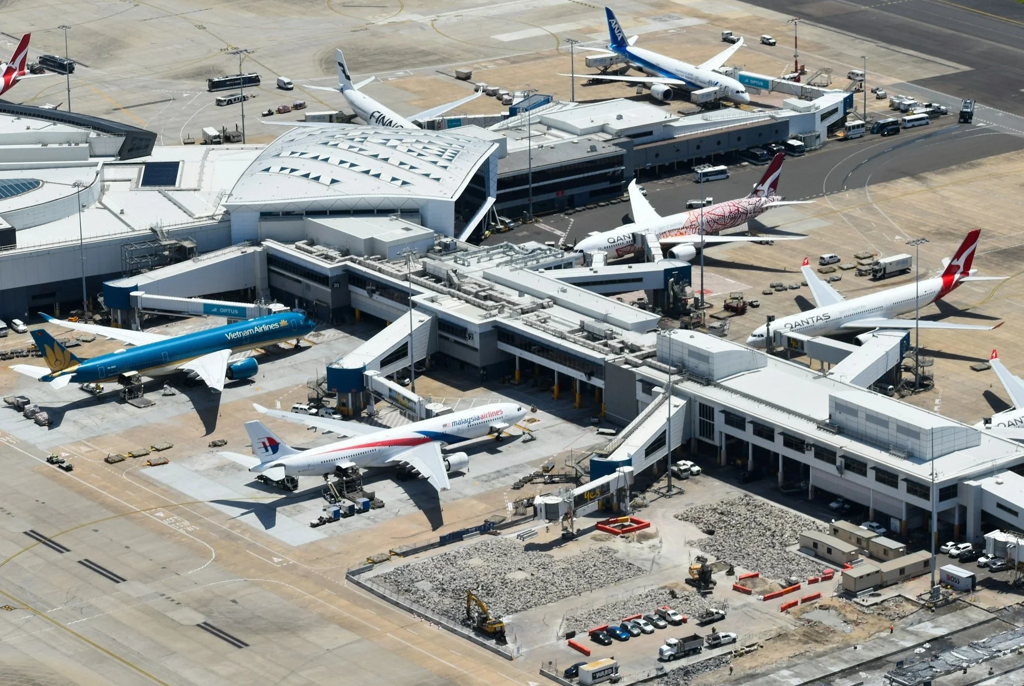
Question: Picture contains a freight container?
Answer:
Yes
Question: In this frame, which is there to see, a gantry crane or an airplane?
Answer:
airplane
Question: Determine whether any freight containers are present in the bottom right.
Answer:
Yes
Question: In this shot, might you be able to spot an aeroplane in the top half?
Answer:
Yes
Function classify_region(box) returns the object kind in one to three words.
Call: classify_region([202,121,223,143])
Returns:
truck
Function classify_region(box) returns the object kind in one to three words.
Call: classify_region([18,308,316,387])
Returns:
airplane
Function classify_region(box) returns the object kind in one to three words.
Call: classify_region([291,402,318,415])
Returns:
vehicle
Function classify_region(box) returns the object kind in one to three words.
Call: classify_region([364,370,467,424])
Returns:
jet bridge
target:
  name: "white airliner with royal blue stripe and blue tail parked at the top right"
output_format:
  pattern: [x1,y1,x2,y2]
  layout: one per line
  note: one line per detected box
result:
[560,8,751,105]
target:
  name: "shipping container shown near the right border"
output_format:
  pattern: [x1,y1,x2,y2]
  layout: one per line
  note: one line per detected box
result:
[939,565,975,591]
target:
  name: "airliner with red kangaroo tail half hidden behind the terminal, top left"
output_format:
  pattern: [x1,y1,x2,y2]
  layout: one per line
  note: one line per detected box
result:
[0,33,53,90]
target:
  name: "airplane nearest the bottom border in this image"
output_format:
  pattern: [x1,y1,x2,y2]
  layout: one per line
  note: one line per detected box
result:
[218,398,525,491]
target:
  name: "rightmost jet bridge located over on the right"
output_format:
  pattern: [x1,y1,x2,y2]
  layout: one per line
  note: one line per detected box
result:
[977,532,1024,583]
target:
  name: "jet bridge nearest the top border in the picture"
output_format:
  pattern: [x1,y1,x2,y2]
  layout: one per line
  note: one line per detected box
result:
[712,65,825,105]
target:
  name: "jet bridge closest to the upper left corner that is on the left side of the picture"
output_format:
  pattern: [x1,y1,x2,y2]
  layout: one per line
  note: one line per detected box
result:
[126,292,292,331]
